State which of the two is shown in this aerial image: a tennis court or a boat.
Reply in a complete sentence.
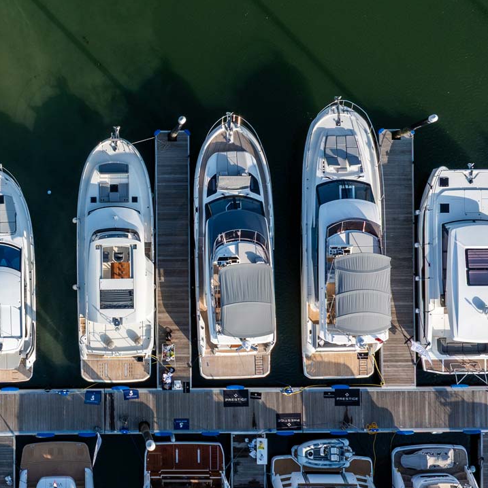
The one in the frame is a boat.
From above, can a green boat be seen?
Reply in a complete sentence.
No, I find no green boat anywhere in the image.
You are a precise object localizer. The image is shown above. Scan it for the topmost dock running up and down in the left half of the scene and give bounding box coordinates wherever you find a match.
[153,128,193,388]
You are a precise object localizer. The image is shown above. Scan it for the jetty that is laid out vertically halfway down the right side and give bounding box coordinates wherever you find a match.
[377,127,416,386]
